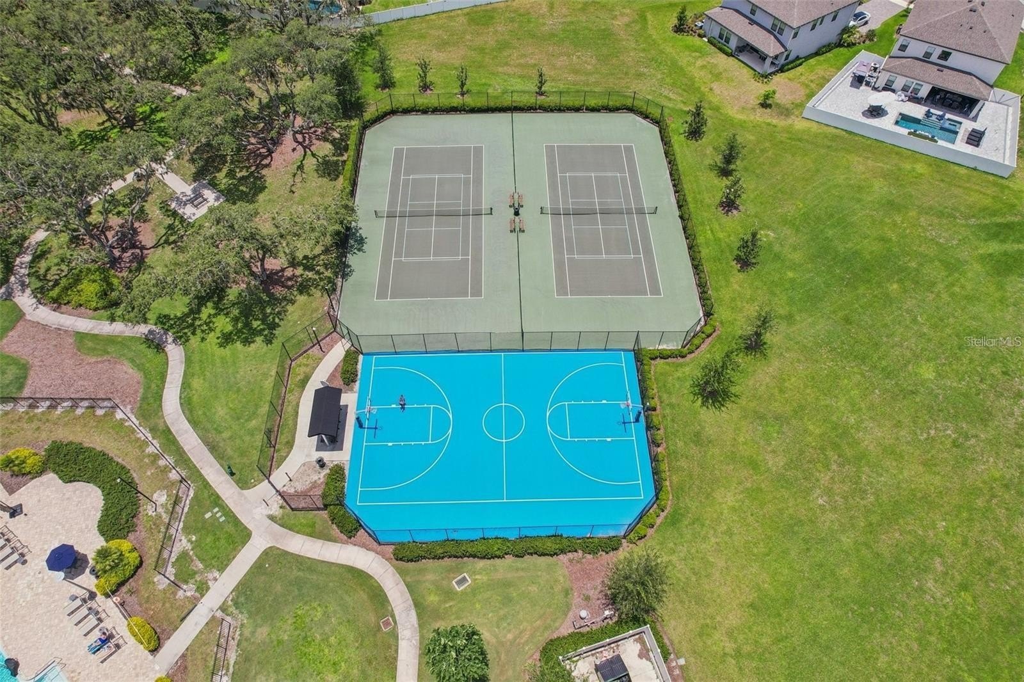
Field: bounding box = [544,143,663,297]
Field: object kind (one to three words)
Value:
tennis court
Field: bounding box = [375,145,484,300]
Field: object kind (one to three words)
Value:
tennis court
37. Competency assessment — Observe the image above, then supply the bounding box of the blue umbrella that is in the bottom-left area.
[46,542,82,575]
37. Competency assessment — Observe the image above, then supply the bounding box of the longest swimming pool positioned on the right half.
[895,114,960,143]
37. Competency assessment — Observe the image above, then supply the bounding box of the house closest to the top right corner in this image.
[876,0,1024,117]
